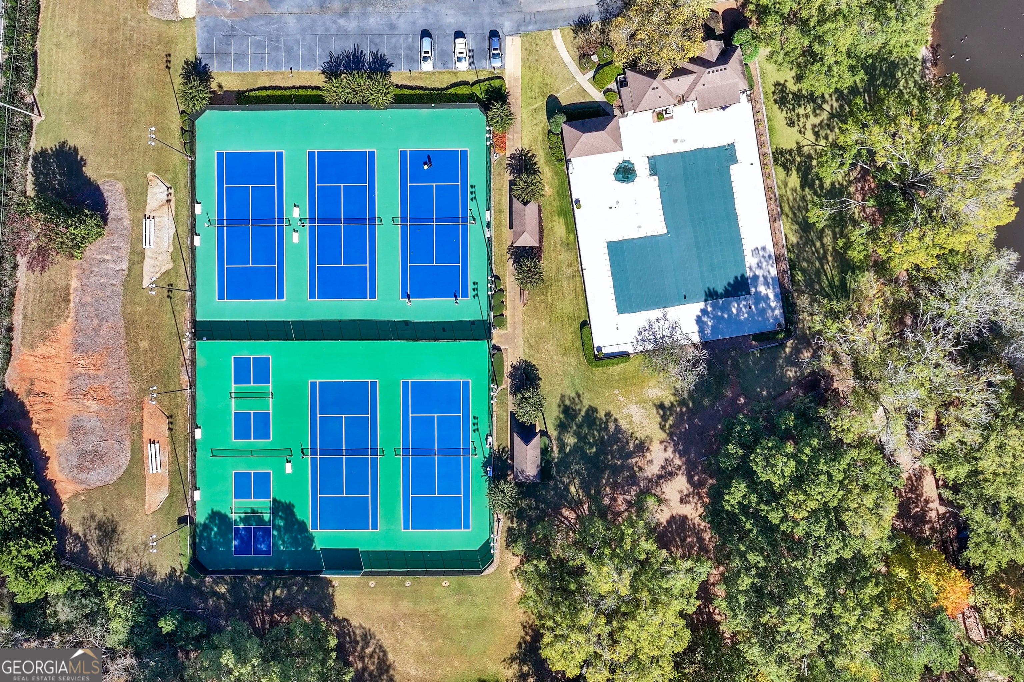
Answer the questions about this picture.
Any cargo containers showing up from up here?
No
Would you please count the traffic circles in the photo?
0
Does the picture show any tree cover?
Yes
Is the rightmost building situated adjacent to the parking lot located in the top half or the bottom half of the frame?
top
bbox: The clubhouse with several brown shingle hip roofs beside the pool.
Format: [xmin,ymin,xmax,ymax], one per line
[621,40,749,114]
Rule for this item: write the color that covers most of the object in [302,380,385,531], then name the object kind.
blue tennis court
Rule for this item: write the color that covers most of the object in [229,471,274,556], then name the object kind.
blue sports court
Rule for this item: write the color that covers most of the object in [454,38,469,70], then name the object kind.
white car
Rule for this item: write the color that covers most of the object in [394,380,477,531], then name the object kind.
blue tennis court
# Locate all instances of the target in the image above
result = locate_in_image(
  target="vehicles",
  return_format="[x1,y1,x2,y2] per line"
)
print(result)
[454,38,469,70]
[489,38,503,66]
[419,39,434,70]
